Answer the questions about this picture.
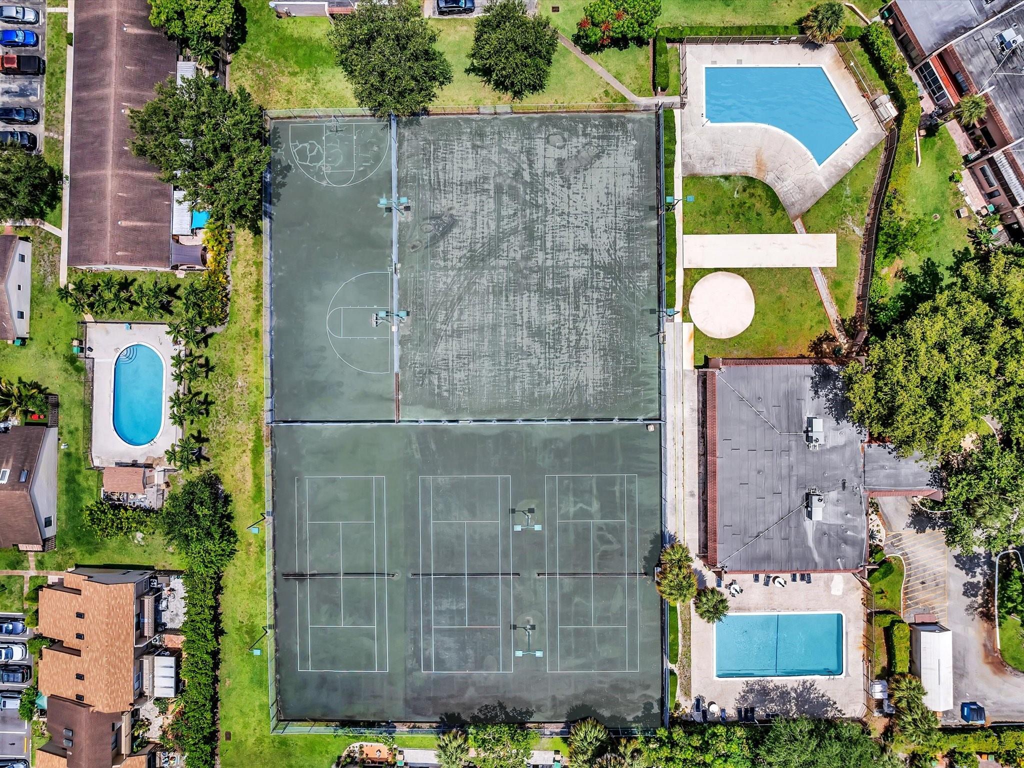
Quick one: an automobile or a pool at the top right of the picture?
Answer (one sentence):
Visible at the top right of the picture is a pool.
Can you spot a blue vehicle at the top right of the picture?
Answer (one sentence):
No, there's no blue vehicle to be seen at the top right of the picture.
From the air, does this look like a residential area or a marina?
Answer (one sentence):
The picture captures a residential area.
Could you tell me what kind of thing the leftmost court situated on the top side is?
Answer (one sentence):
It looks like the leftmost court situated on the top side is a basketball court.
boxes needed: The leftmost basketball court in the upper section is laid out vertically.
[271,115,398,421]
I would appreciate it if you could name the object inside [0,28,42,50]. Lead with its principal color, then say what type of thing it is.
blue car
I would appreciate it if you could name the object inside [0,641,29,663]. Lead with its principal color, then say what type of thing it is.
white car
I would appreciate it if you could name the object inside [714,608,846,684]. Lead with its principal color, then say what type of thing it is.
blue swimming pool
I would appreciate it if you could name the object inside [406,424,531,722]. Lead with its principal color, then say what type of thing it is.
gray tennis court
